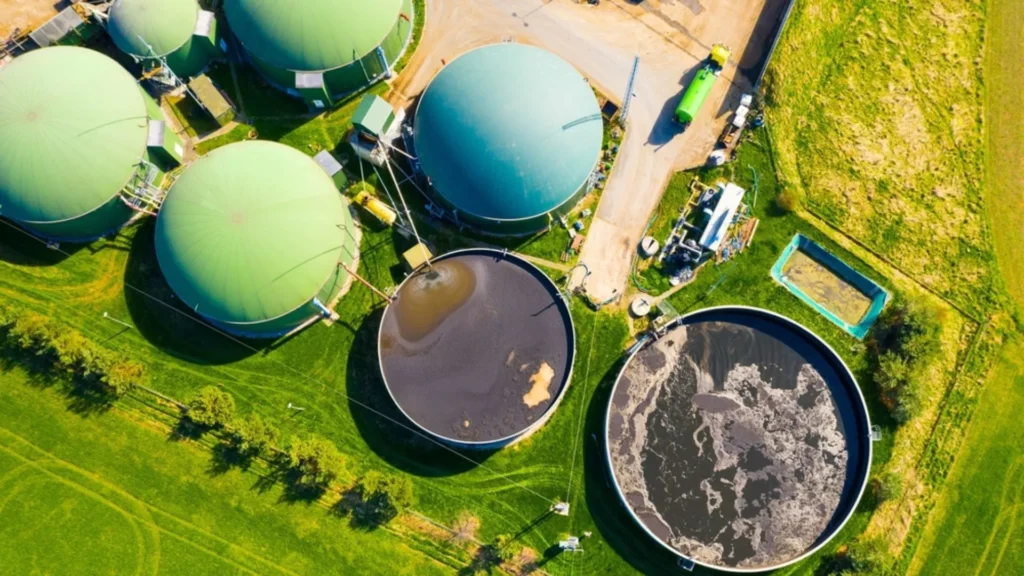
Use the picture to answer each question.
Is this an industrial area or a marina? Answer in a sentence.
The area seen from above is an industrial area.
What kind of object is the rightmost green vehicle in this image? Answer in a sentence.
In the photo, the rightmost green vehicle shows up as a truck.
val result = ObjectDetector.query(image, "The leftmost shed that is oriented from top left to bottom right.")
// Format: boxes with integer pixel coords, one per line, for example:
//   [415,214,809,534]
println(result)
[188,73,241,128]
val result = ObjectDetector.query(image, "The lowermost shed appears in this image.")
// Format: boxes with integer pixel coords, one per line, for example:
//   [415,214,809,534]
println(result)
[402,243,432,273]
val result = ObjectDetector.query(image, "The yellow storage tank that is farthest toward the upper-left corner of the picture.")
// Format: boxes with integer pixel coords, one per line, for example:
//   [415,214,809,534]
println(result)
[352,187,398,223]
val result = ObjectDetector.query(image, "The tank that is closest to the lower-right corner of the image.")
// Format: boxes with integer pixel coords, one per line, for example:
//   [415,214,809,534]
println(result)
[605,302,886,576]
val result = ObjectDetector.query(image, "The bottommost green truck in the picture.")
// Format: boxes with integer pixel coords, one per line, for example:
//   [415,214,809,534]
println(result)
[668,42,733,131]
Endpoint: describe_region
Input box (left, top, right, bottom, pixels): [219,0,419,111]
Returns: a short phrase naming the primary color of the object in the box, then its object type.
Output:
green storage tank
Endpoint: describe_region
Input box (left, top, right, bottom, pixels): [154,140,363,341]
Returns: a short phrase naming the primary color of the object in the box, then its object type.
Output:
green storage tank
